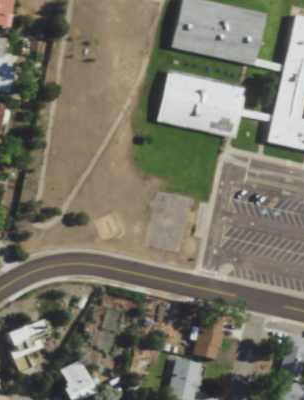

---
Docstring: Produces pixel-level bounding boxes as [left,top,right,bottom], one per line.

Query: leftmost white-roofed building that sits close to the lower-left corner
[8,320,48,372]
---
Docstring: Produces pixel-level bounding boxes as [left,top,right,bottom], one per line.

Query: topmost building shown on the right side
[172,0,268,66]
